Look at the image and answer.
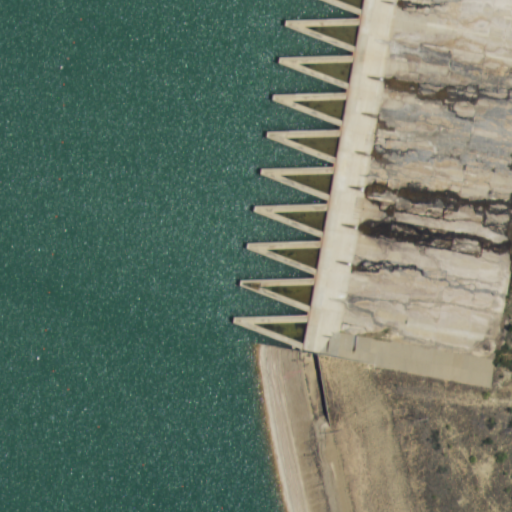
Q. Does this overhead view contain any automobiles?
No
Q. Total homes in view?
zero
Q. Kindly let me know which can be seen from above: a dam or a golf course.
dam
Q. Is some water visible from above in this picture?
Yes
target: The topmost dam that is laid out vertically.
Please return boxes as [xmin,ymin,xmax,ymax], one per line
[234,0,397,354]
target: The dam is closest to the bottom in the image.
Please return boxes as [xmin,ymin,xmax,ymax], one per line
[256,344,412,512]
